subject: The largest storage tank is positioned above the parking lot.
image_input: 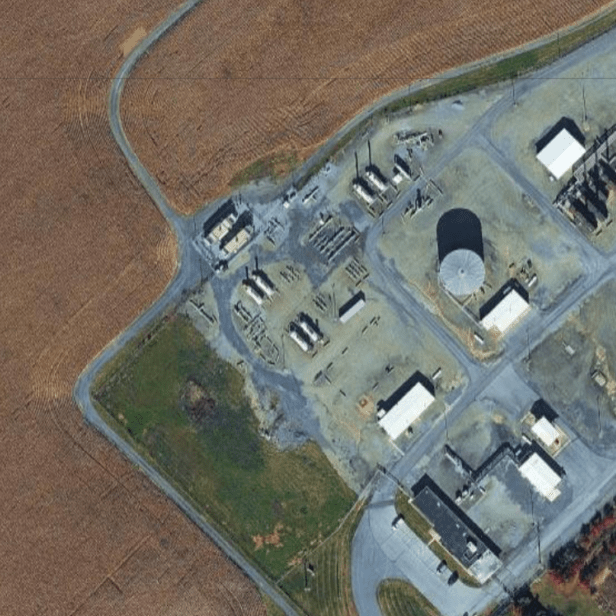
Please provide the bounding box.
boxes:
[437,247,487,297]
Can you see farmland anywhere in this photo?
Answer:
Yes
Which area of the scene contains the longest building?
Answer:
bottom right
